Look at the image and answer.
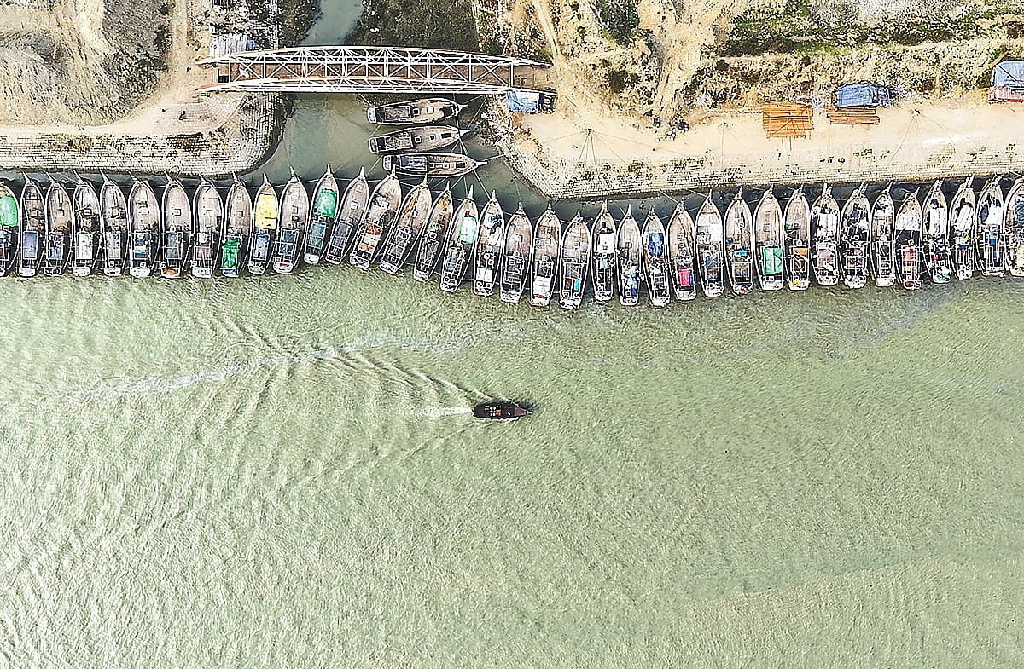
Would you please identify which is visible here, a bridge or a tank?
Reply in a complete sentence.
It is a bridge that can be seen here.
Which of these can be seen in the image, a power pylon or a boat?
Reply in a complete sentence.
Of the two, only a boat appears.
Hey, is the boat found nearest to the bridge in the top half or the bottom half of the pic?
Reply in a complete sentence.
Seen from above, the boat found nearest to the bridge lies in the top half of the view.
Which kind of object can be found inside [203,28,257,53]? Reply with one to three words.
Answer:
shed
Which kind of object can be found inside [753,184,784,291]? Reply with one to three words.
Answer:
boat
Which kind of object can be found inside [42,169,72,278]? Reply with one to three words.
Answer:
boat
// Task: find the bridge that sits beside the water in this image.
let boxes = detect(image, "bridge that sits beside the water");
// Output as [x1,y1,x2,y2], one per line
[192,46,560,93]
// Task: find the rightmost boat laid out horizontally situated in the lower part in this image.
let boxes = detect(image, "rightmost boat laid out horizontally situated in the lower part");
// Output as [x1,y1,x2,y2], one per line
[472,403,532,421]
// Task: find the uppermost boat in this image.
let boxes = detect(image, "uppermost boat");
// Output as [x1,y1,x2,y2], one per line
[368,100,467,127]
